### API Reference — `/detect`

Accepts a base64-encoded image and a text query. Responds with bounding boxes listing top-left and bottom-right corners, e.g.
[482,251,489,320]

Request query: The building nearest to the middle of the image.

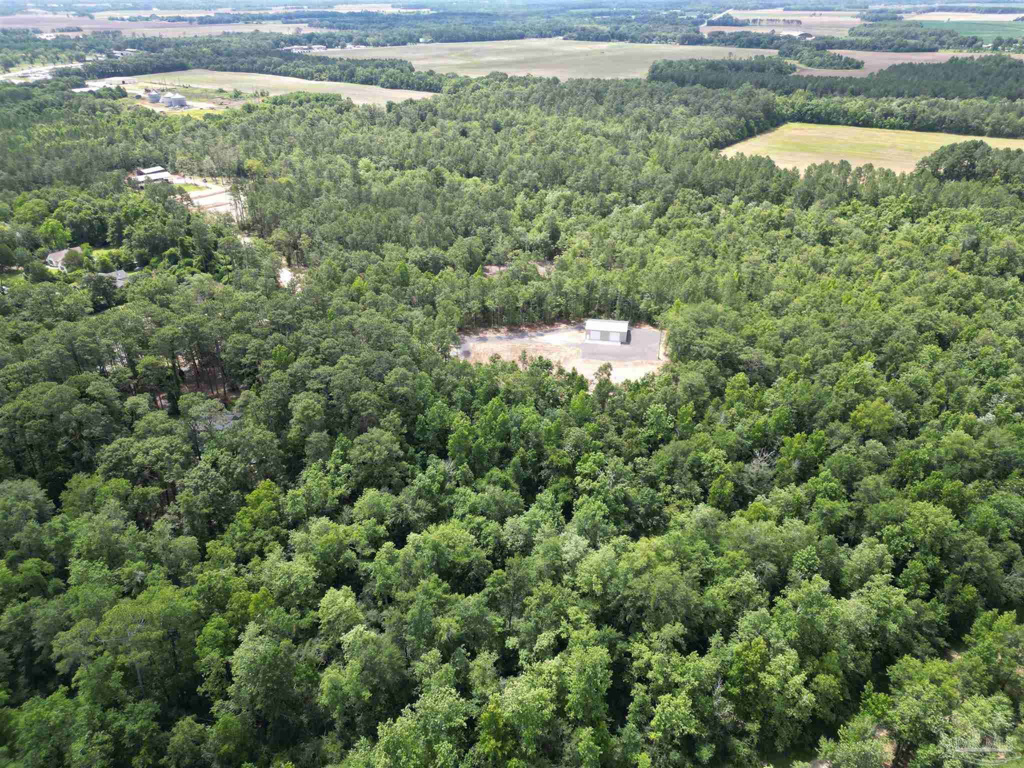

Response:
[584,316,628,343]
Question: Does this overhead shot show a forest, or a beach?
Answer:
forest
